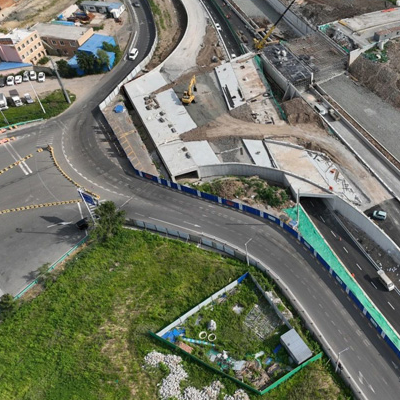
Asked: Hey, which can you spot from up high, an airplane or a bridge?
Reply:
bridge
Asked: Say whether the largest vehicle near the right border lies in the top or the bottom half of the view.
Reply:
bottom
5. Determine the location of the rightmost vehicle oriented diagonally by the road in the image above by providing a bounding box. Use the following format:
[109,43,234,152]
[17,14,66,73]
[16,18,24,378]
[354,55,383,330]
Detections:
[375,266,396,290]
